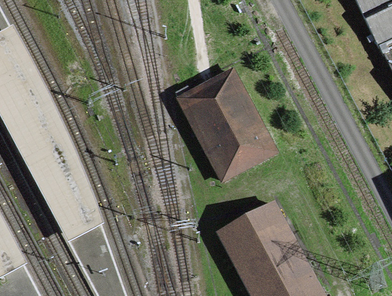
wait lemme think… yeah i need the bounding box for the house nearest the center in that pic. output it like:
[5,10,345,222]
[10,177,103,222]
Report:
[176,68,279,182]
